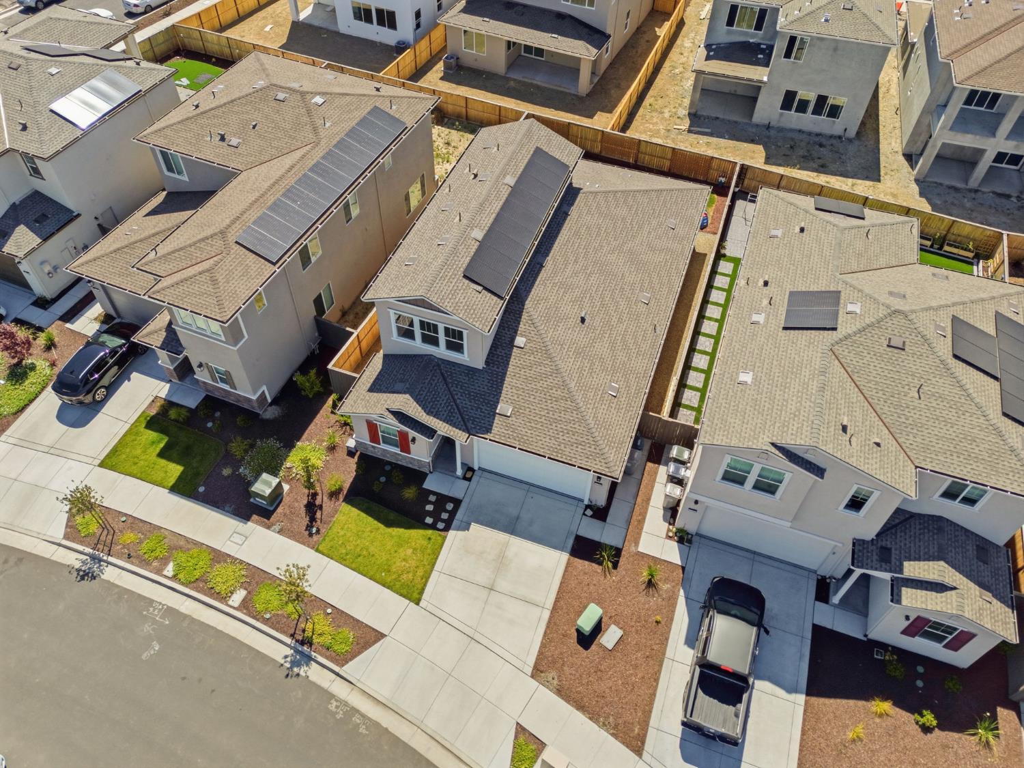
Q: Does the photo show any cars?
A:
Yes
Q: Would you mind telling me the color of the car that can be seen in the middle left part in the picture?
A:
black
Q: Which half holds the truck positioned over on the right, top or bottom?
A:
bottom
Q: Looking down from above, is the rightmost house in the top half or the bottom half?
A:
top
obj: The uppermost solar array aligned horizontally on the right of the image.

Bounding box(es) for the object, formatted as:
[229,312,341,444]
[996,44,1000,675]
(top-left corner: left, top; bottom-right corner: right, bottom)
[815,196,866,218]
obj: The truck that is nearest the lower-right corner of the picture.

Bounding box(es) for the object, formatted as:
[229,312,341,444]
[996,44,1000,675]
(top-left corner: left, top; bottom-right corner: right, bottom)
[682,576,767,748]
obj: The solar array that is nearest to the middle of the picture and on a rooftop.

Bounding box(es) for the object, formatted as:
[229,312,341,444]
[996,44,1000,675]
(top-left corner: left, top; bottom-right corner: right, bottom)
[460,146,571,296]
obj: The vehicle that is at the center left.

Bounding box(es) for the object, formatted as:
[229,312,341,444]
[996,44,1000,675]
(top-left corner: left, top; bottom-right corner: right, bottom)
[51,322,147,405]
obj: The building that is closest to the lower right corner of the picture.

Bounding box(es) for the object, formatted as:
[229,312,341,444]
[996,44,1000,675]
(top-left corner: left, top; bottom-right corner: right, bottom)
[675,186,1024,669]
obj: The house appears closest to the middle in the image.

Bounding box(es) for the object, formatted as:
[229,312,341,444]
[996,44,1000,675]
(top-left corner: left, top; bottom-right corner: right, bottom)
[336,120,712,507]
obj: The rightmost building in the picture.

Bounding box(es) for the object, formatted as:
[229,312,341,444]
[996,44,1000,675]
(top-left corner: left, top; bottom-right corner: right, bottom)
[894,0,1024,193]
